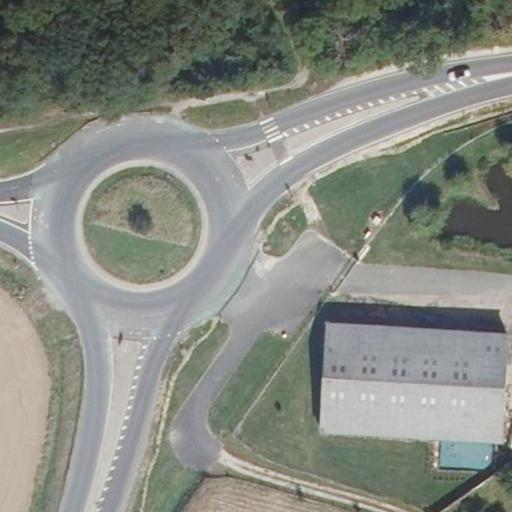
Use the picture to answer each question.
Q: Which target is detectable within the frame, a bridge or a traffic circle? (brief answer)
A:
traffic circle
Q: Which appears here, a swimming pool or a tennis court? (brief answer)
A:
swimming pool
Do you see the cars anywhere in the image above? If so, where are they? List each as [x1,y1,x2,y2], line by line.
[448,70,472,82]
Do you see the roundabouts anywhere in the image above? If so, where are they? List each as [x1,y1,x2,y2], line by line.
[30,114,260,347]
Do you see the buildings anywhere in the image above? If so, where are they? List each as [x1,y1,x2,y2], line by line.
[320,322,508,445]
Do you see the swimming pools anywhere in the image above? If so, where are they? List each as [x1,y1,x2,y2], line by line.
[431,442,496,473]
